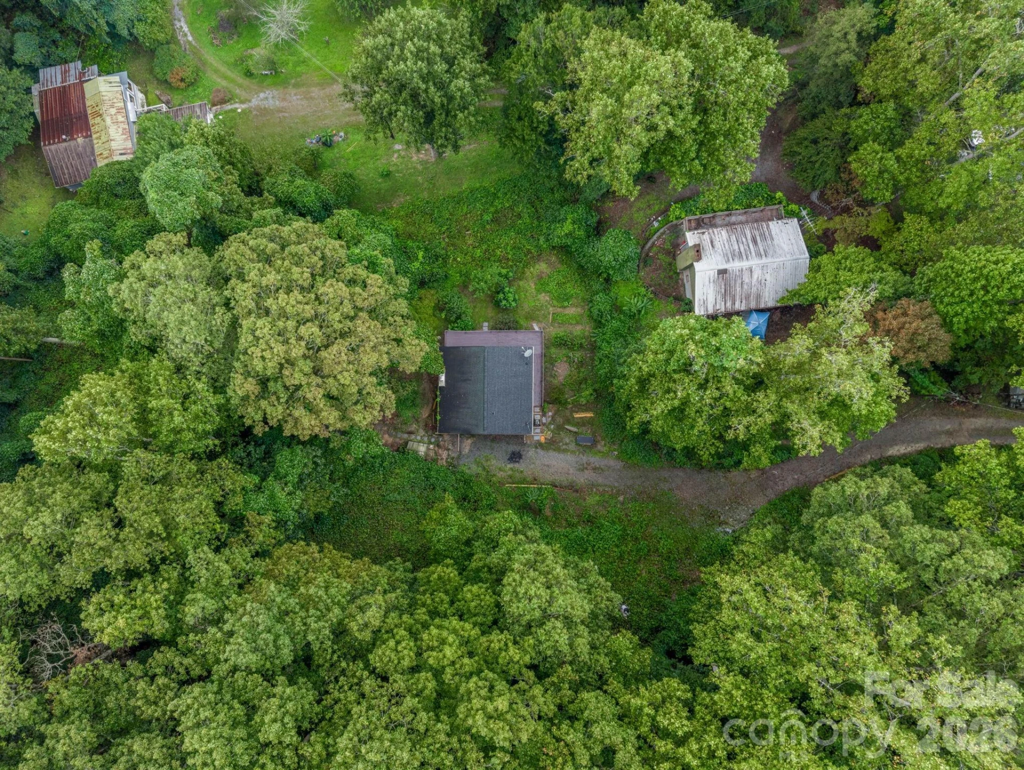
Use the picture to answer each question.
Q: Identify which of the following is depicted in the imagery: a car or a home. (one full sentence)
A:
The image shows a home.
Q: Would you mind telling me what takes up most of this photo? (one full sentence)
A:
Most of the picture is covered by trees.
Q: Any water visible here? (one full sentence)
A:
No, there is no water in the image.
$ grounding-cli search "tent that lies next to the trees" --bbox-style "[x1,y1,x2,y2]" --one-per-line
[745,310,771,341]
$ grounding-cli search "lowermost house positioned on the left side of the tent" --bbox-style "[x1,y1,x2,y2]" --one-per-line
[437,330,543,436]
